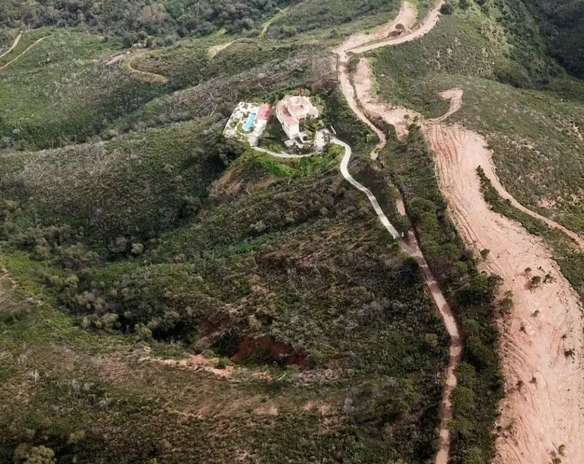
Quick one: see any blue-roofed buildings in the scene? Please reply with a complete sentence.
No, I can't see a single blue-roofed building in this photo.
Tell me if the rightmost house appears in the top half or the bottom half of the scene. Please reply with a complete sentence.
You can find the rightmost house in the top half.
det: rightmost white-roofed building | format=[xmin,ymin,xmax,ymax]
[277,96,319,133]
